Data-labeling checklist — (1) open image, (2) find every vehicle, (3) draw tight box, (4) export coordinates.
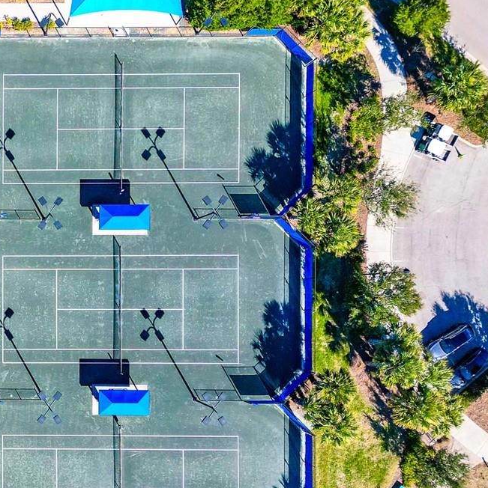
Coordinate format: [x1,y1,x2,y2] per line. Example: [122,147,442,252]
[425,321,477,359]
[424,125,456,149]
[413,138,447,161]
[451,348,488,390]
